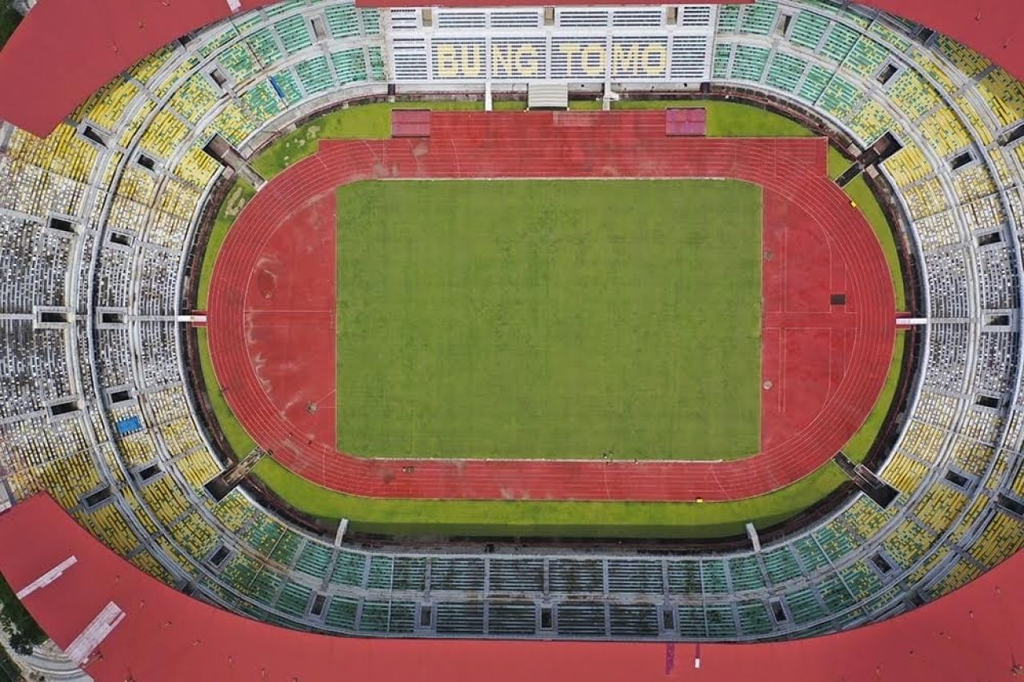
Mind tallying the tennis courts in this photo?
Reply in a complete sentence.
The count of tennis courts is 0.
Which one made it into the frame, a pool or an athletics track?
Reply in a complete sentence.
Visible in the photo is an athletics track.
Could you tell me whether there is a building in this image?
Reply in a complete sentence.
No, the photo shows no building.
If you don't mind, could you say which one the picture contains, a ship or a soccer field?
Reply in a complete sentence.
Of the two, only a soccer field appears.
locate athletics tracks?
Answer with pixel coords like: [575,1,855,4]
[192,109,911,502]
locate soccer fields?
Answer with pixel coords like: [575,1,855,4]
[336,177,761,462]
